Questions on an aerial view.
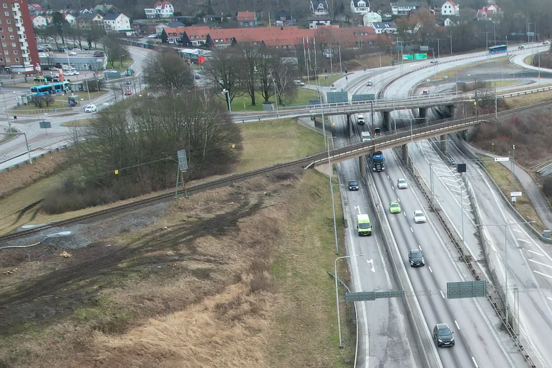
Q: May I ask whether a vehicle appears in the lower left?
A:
No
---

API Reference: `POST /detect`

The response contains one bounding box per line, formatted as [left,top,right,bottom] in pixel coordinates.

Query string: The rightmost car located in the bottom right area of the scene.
[430,319,454,345]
